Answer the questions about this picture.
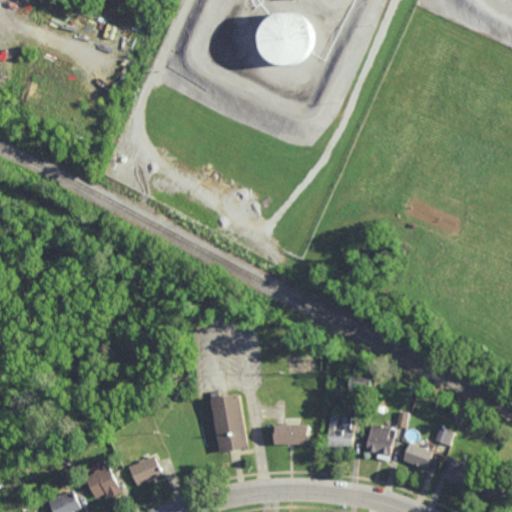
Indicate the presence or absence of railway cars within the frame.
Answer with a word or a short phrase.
No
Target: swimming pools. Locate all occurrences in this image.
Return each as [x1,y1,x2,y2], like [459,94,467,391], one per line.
[404,428,421,444]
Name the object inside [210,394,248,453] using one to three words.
building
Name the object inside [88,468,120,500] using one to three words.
house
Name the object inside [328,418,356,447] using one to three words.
house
